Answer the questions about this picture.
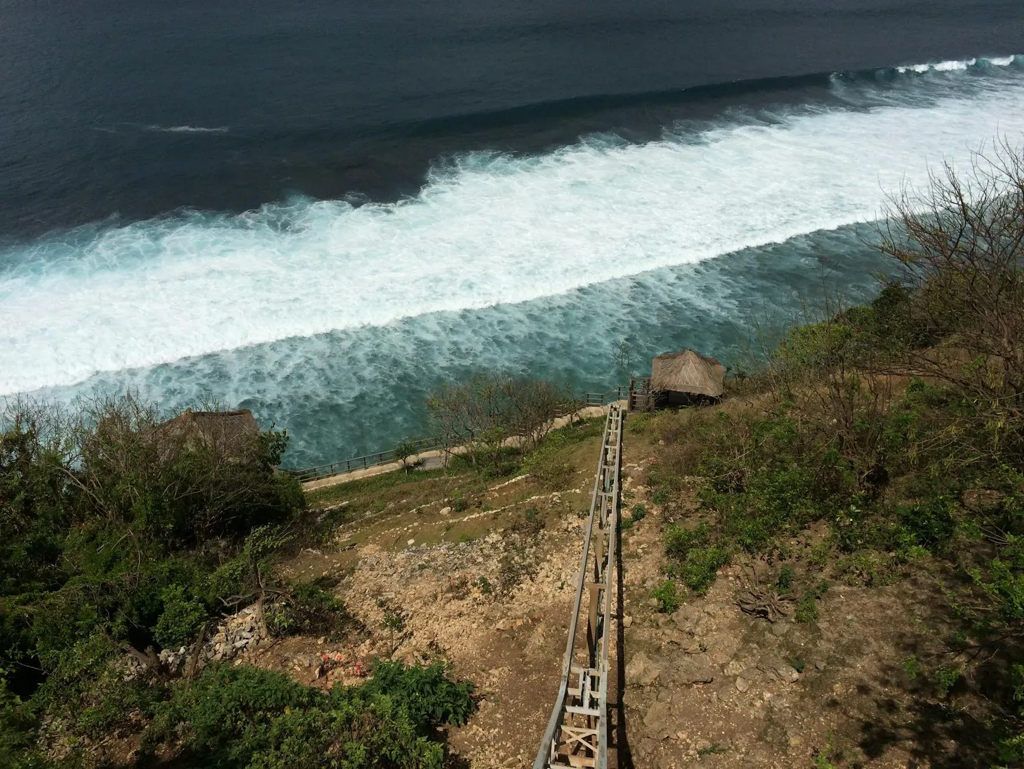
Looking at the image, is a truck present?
No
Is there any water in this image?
Yes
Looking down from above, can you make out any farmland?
No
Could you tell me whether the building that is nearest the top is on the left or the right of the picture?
right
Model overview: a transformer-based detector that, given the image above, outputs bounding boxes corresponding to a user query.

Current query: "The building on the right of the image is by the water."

[654,348,732,414]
